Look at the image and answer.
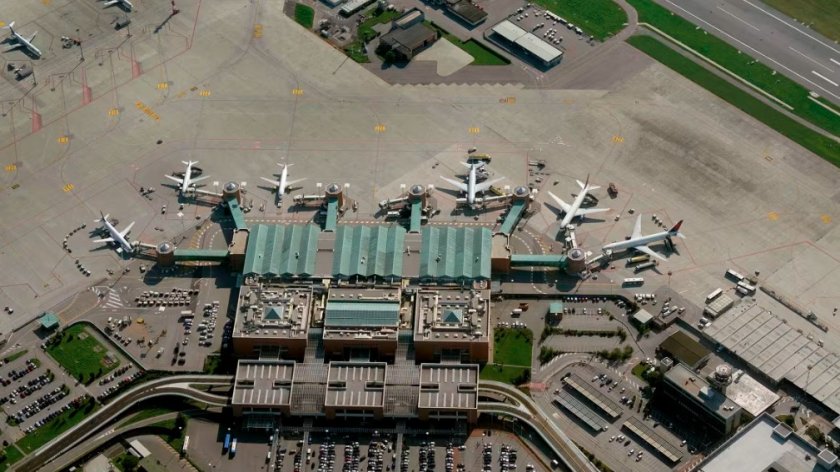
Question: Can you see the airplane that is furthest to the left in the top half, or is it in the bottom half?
top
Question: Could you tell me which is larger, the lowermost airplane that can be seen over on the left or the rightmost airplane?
the rightmost airplane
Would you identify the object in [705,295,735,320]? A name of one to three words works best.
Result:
shed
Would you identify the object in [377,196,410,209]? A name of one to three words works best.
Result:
jet bridge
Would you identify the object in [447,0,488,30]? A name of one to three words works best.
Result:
building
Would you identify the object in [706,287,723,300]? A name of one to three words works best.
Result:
vehicle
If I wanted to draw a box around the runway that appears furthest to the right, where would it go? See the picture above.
[653,0,840,110]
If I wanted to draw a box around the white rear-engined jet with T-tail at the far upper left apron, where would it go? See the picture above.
[2,22,40,55]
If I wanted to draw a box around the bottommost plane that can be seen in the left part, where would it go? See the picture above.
[95,215,139,253]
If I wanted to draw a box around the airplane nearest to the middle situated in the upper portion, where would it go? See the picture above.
[440,162,505,209]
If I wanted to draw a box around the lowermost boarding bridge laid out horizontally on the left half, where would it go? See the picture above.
[129,241,158,254]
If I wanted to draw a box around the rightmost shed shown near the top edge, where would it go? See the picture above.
[483,19,563,73]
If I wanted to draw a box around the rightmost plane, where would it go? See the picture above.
[602,216,685,263]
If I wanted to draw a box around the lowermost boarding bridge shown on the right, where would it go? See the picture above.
[584,250,613,267]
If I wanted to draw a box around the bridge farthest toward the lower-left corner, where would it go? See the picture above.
[0,373,233,472]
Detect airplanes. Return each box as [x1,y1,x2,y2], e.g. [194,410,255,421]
[440,162,505,209]
[259,160,307,207]
[550,175,613,227]
[121,0,133,8]
[95,215,139,253]
[2,22,40,55]
[163,154,212,193]
[602,216,685,263]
